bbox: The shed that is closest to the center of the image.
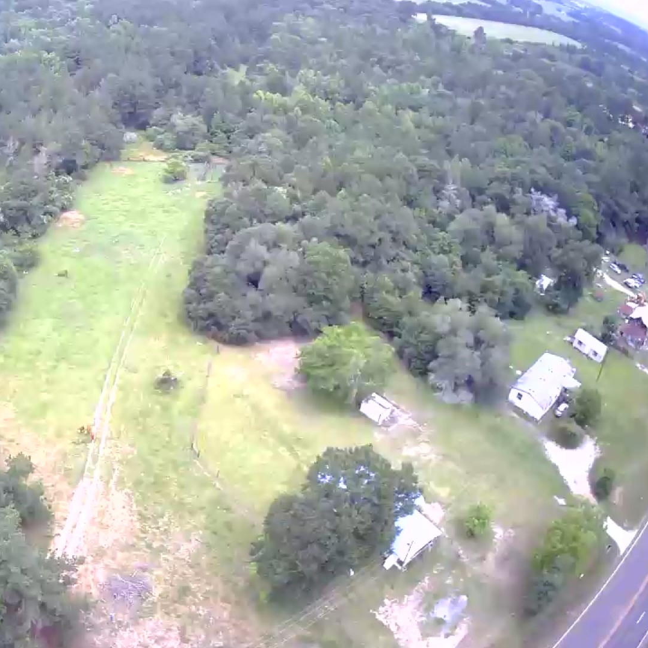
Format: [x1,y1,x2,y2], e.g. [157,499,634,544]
[356,395,402,435]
